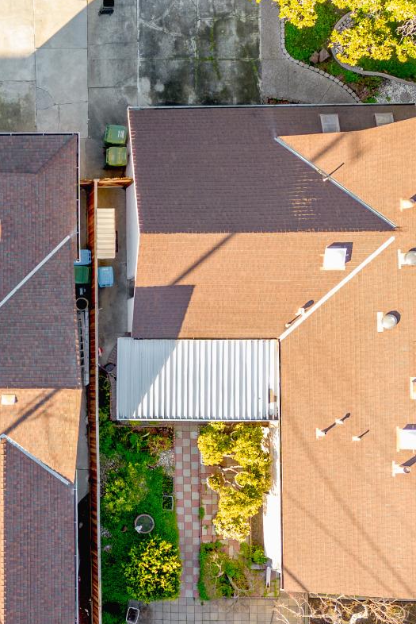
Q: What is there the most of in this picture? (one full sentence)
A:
Most of the picture is covered by buildings.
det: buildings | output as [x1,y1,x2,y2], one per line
[104,102,416,601]
[0,131,81,624]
